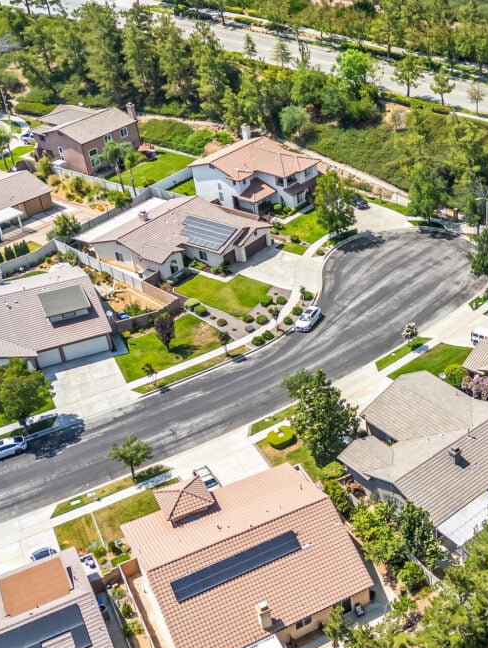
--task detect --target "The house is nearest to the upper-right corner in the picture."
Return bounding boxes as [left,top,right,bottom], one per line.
[184,123,329,221]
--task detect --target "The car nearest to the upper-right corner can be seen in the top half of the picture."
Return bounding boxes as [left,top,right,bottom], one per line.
[345,186,374,209]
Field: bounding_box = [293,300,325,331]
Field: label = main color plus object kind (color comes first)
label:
white car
